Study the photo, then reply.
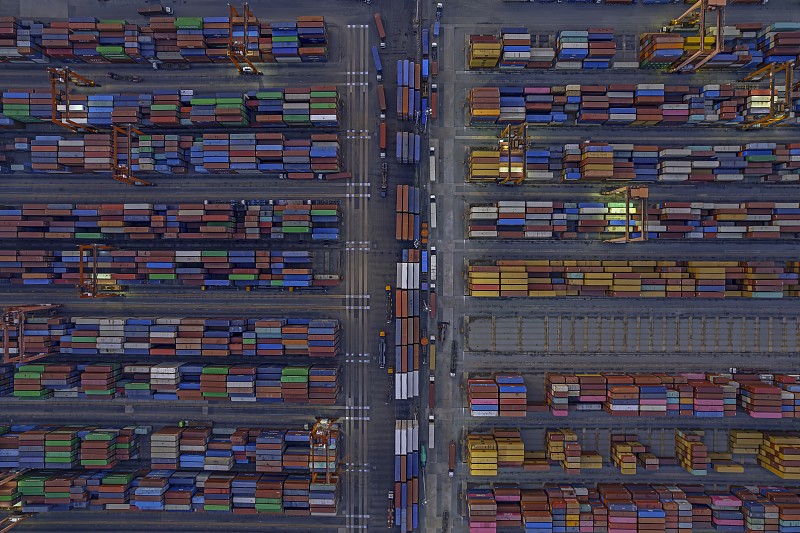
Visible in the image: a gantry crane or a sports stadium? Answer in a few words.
gantry crane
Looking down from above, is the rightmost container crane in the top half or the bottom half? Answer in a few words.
top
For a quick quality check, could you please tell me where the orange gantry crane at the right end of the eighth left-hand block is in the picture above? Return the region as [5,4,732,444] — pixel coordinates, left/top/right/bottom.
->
[309,417,339,486]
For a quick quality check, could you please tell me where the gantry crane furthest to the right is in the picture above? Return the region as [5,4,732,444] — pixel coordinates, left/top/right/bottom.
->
[738,65,796,132]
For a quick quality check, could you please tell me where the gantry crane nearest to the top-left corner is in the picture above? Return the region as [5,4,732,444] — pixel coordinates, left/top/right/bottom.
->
[43,63,98,131]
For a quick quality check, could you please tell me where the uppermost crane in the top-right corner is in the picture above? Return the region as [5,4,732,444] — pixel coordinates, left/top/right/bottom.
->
[673,0,726,73]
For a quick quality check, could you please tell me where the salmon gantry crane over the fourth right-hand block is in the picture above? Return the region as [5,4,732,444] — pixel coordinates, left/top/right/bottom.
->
[605,187,650,246]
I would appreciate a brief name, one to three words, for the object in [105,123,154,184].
container crane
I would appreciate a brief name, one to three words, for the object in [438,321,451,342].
vehicle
